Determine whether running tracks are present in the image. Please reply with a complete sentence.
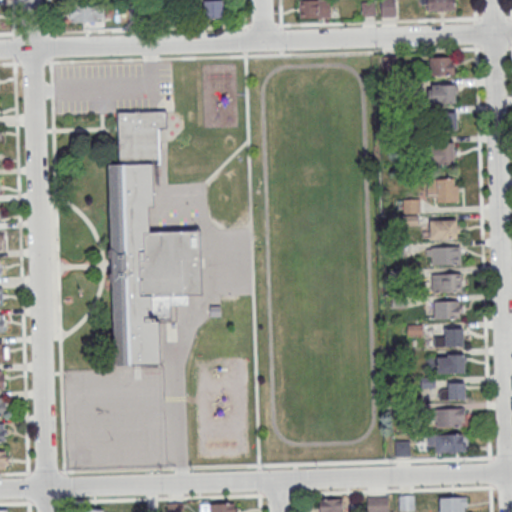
Yes, a running track appears in the view.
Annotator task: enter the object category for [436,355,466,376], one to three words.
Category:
house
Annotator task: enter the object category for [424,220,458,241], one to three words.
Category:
house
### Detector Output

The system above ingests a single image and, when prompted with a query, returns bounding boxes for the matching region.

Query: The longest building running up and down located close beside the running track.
[108,112,202,366]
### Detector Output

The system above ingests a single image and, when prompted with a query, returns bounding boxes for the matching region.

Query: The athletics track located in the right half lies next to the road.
[262,64,375,446]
